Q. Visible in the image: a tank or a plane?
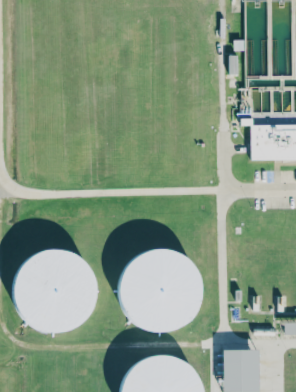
tank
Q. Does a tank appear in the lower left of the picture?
Yes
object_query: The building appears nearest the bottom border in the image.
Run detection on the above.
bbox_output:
[223,350,260,392]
